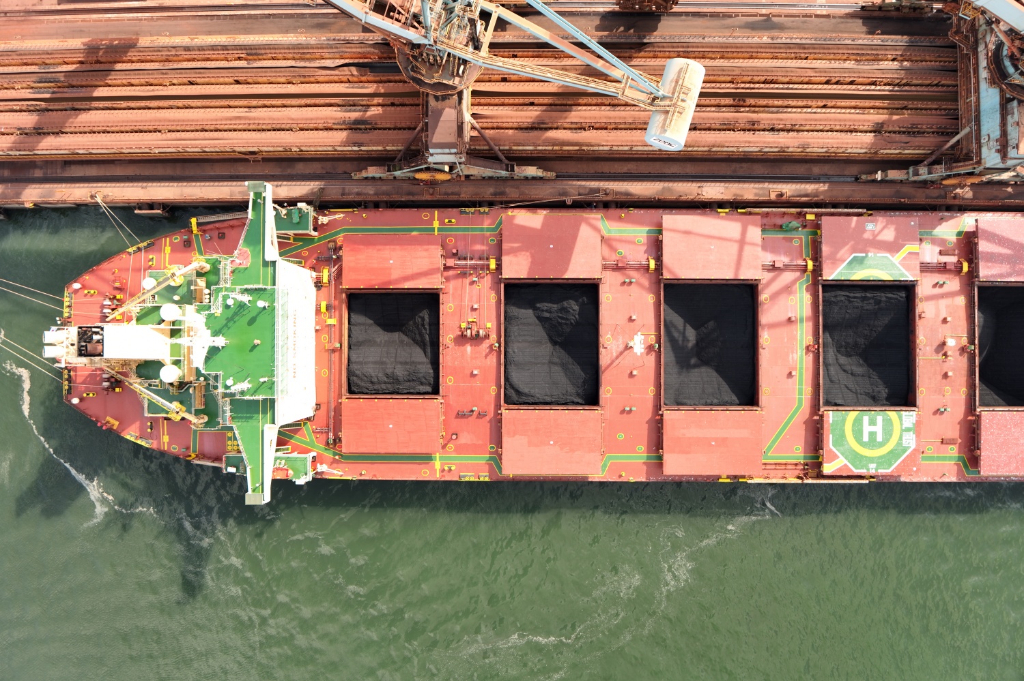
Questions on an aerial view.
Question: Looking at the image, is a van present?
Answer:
No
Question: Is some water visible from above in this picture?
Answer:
Yes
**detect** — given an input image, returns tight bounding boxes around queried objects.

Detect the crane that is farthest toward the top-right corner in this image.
[855,0,1024,188]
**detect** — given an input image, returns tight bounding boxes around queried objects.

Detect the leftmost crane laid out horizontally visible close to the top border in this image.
[317,0,711,188]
